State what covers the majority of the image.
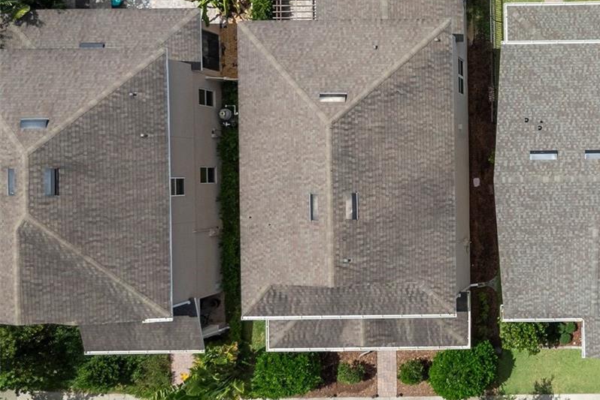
buildings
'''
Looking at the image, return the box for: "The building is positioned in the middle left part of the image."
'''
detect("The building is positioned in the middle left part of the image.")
[0,8,264,354]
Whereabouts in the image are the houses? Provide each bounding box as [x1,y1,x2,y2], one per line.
[0,8,264,354]
[494,1,600,359]
[236,0,485,352]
